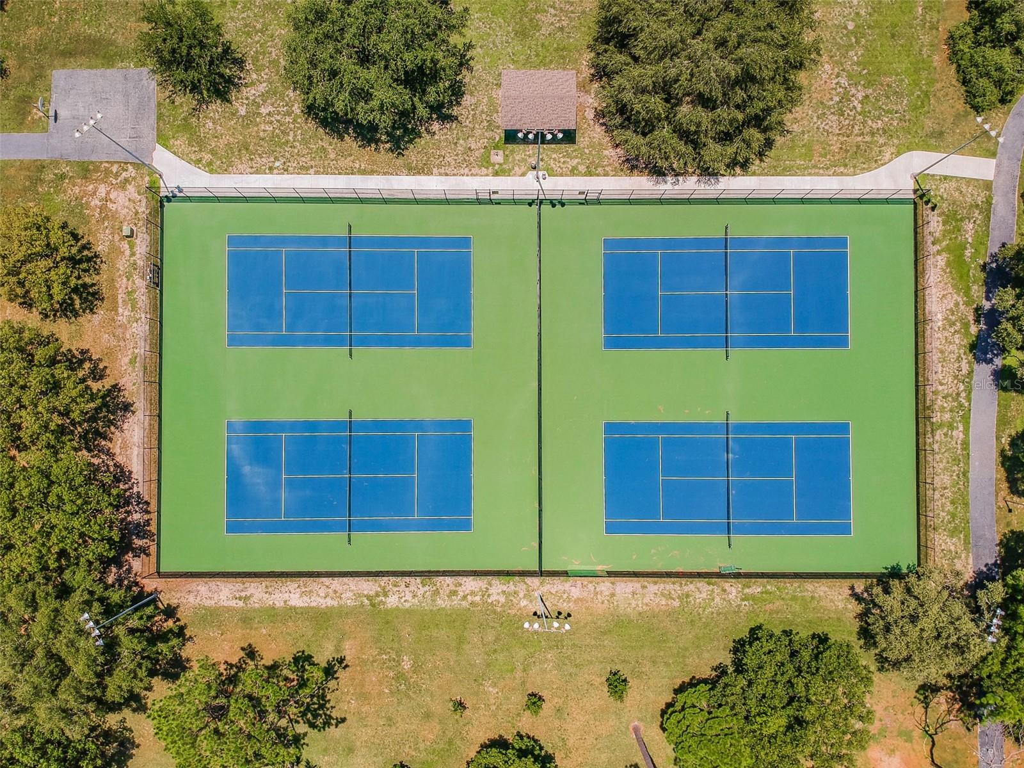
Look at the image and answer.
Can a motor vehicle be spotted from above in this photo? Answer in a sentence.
No, the picture doesn't show any motor vehicle.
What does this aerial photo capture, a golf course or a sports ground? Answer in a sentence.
What you see here is a sports ground.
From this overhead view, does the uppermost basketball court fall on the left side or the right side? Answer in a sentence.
It is on the left.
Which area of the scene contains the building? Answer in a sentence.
You can find the building in the top area of the picture.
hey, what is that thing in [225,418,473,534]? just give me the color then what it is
blue tennis court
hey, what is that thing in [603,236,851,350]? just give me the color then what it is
blue tennis court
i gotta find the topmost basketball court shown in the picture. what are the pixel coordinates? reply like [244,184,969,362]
[48,68,156,163]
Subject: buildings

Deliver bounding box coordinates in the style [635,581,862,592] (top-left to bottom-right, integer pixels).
[502,70,577,141]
